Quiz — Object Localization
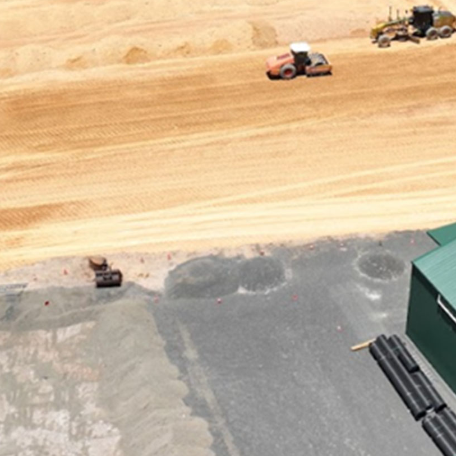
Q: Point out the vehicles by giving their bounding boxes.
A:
[268,36,335,79]
[368,0,456,46]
